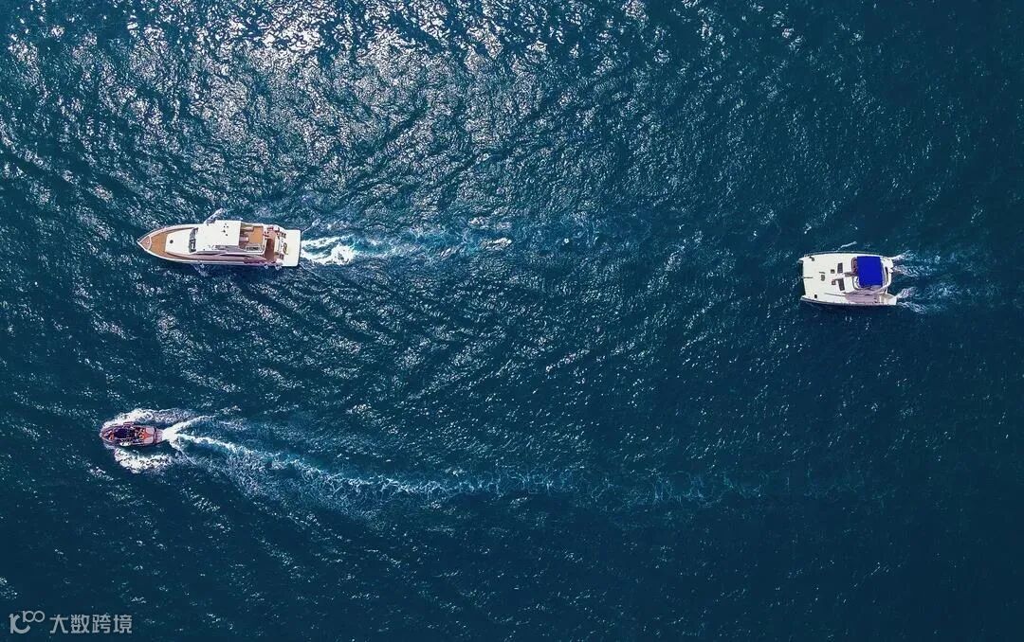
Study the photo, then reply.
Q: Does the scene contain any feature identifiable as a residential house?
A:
No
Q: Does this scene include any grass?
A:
No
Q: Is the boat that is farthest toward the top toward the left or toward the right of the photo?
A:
left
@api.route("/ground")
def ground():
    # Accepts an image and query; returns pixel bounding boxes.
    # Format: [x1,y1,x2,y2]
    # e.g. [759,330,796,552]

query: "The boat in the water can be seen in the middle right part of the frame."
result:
[793,251,896,310]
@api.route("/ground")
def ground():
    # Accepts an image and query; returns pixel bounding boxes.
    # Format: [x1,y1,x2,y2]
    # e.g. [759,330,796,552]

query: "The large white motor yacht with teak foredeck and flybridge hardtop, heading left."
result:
[135,220,302,267]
